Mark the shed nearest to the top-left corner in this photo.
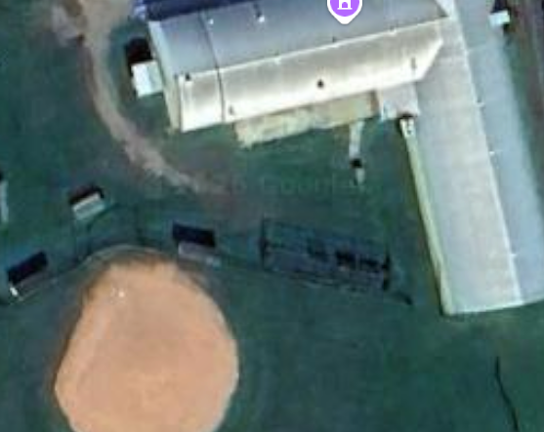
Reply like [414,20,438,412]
[125,57,165,97]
